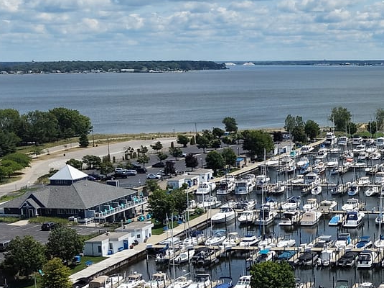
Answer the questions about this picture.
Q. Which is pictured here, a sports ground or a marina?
marina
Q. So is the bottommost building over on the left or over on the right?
left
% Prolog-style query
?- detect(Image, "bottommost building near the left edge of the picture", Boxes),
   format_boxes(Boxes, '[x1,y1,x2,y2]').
[0,165,145,220]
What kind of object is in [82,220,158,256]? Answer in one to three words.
building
